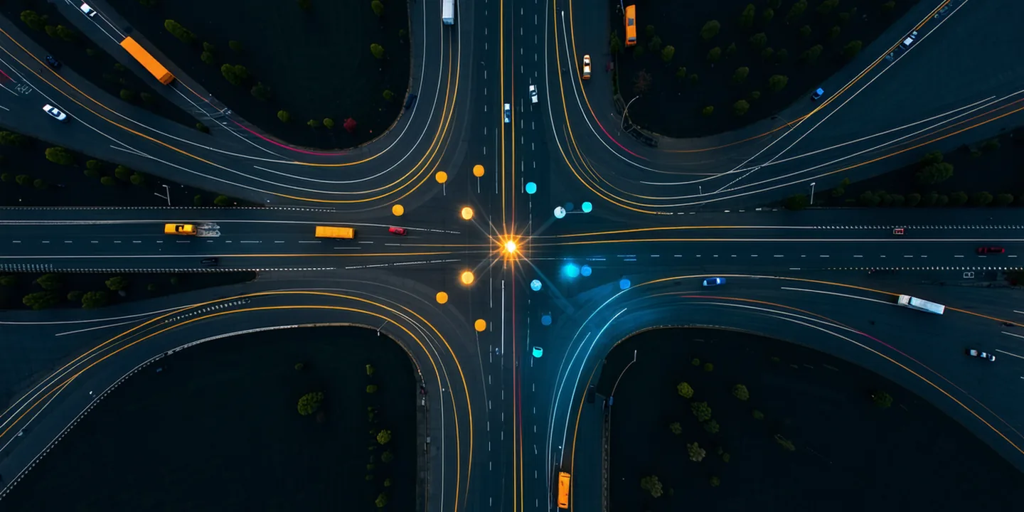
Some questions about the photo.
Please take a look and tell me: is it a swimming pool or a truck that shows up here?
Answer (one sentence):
I can see a truck in this picture.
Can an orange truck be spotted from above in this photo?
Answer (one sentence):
Yes, I can see an orange truck in this picture.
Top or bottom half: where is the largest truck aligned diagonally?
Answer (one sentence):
You can find the largest truck aligned diagonally in the top half.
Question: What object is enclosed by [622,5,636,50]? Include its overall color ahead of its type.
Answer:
orange vehicle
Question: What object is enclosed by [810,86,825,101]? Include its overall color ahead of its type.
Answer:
blue car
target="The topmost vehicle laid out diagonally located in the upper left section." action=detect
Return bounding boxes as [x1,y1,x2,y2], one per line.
[79,1,99,19]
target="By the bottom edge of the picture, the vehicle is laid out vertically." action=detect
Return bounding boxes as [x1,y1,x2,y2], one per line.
[557,467,572,508]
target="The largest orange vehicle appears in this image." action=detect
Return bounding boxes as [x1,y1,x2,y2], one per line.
[119,35,180,88]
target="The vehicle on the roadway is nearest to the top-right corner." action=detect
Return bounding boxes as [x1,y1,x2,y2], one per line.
[933,1,951,18]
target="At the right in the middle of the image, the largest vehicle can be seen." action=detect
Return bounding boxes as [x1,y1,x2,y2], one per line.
[890,292,946,314]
